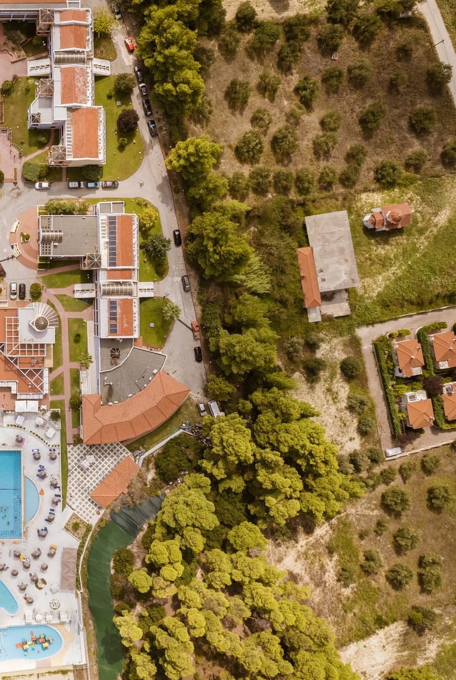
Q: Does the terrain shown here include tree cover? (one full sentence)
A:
Yes, some tree cover is visible.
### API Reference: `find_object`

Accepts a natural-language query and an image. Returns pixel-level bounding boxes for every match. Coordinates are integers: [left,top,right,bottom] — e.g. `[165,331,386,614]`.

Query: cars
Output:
[193,347,201,363]
[102,182,118,189]
[19,283,25,300]
[147,120,156,136]
[68,182,83,189]
[134,65,144,82]
[86,182,101,189]
[384,448,400,456]
[182,275,190,291]
[0,263,7,278]
[139,83,148,98]
[142,99,152,116]
[35,183,50,190]
[10,283,16,300]
[172,230,181,246]
[207,399,218,416]
[124,37,134,52]
[197,401,206,415]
